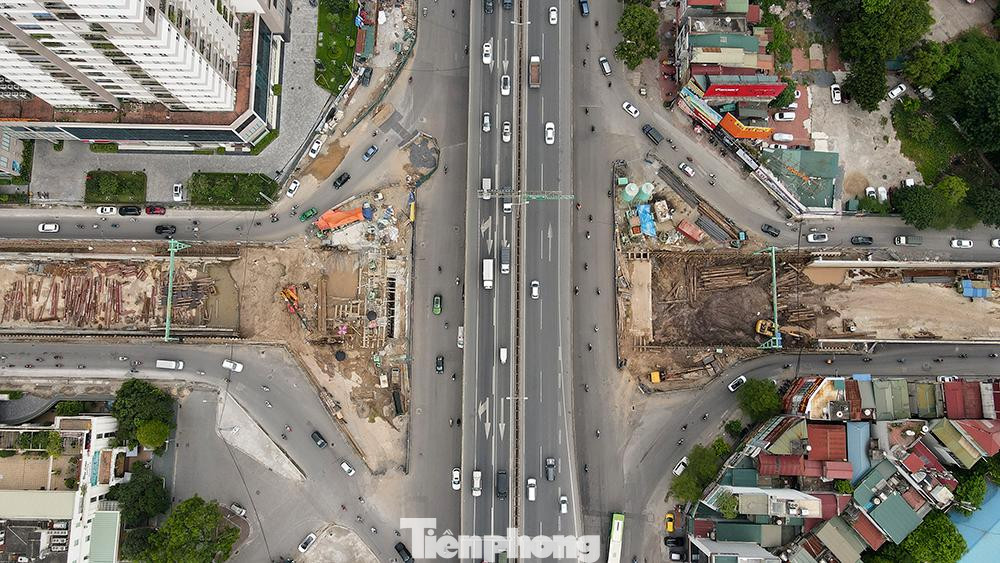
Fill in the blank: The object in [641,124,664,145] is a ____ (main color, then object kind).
gray truck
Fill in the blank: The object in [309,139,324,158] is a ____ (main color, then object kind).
white car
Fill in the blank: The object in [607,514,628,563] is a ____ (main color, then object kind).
white bus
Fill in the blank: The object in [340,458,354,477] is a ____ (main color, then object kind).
white car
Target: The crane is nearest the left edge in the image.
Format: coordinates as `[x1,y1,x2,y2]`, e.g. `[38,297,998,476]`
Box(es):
[165,238,202,341]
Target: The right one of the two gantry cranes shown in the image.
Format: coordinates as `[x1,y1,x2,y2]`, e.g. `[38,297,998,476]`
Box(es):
[746,245,785,342]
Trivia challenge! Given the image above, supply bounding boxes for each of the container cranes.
[165,238,202,341]
[746,245,785,342]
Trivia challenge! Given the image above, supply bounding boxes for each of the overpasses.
[460,0,586,563]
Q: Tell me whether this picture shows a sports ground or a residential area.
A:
residential area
